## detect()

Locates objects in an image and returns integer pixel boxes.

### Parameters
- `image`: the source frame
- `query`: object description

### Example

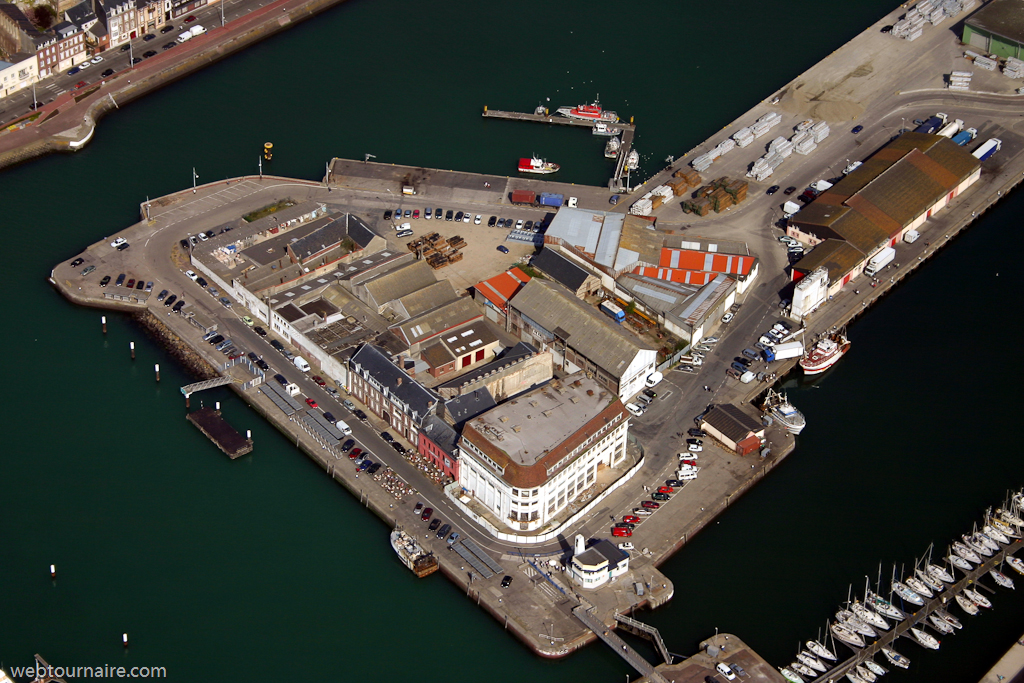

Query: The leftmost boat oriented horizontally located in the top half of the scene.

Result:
[518,155,562,174]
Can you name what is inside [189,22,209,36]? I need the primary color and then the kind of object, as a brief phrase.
white vehicle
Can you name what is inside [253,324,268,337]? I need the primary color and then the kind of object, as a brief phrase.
black vehicle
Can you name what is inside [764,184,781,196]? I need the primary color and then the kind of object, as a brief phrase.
black vehicle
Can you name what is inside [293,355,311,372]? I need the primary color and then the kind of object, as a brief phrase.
white vehicle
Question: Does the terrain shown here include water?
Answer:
Yes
